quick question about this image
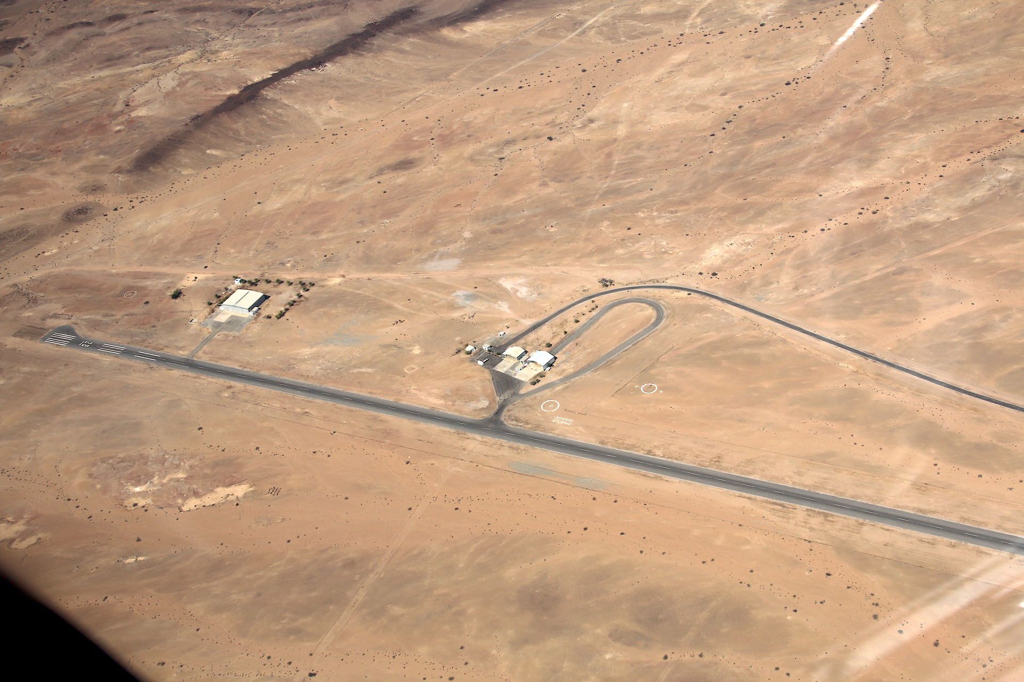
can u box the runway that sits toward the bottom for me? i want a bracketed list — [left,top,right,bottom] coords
[43,330,1024,555]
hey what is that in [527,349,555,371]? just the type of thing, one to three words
hangar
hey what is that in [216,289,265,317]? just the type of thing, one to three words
hangar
